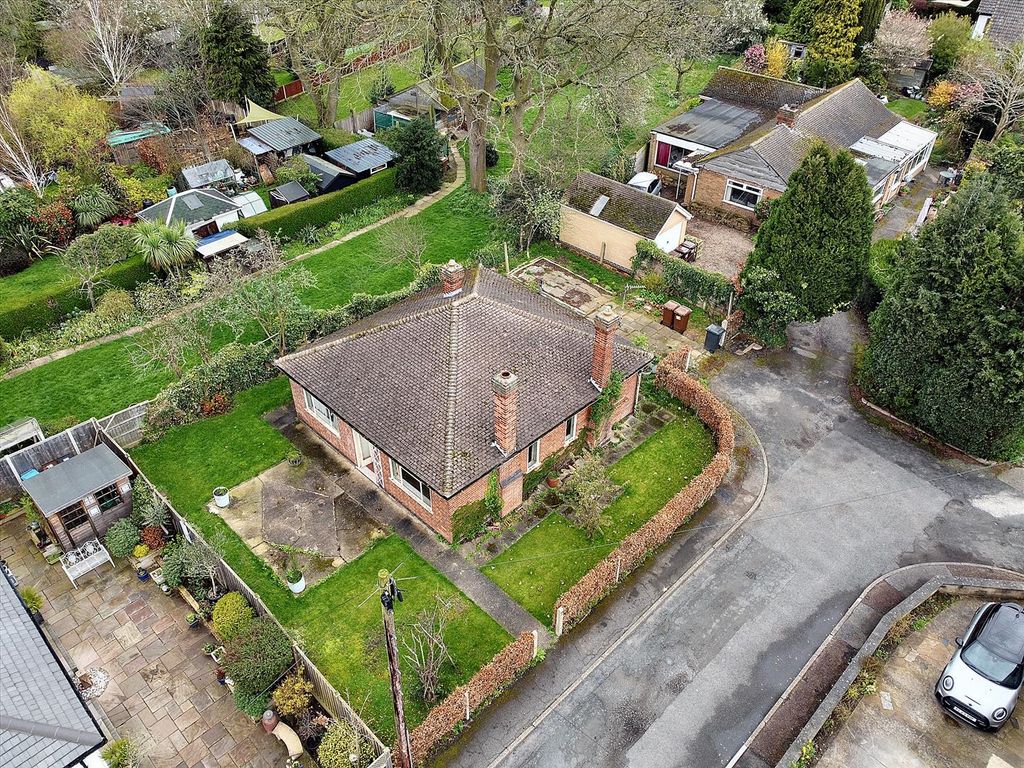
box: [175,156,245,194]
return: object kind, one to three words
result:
greenhouse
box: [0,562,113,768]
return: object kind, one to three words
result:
house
